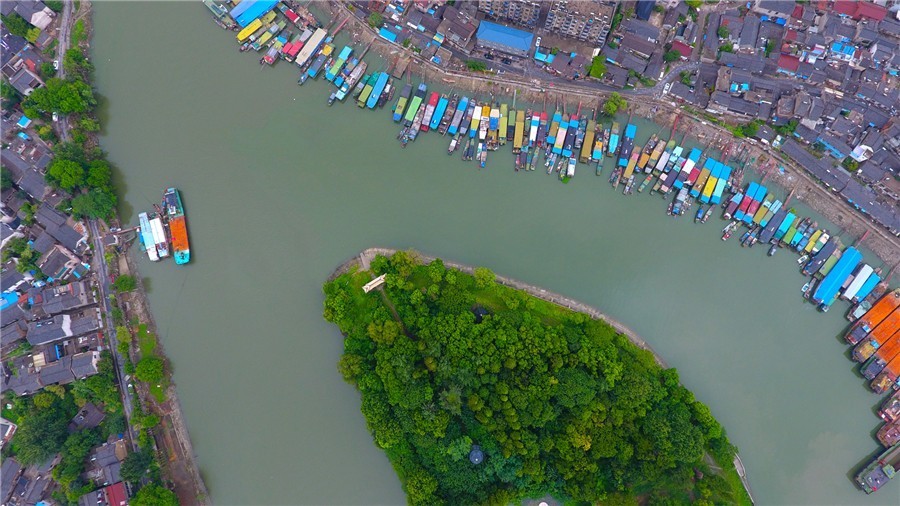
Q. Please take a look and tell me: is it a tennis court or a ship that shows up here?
ship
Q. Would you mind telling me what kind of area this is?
residential area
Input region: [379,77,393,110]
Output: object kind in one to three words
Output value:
boat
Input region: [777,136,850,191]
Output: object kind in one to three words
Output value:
building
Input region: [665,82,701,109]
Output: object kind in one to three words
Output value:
house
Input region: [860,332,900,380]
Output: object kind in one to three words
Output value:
ship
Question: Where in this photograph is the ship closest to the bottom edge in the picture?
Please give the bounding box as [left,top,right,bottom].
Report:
[855,444,900,491]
